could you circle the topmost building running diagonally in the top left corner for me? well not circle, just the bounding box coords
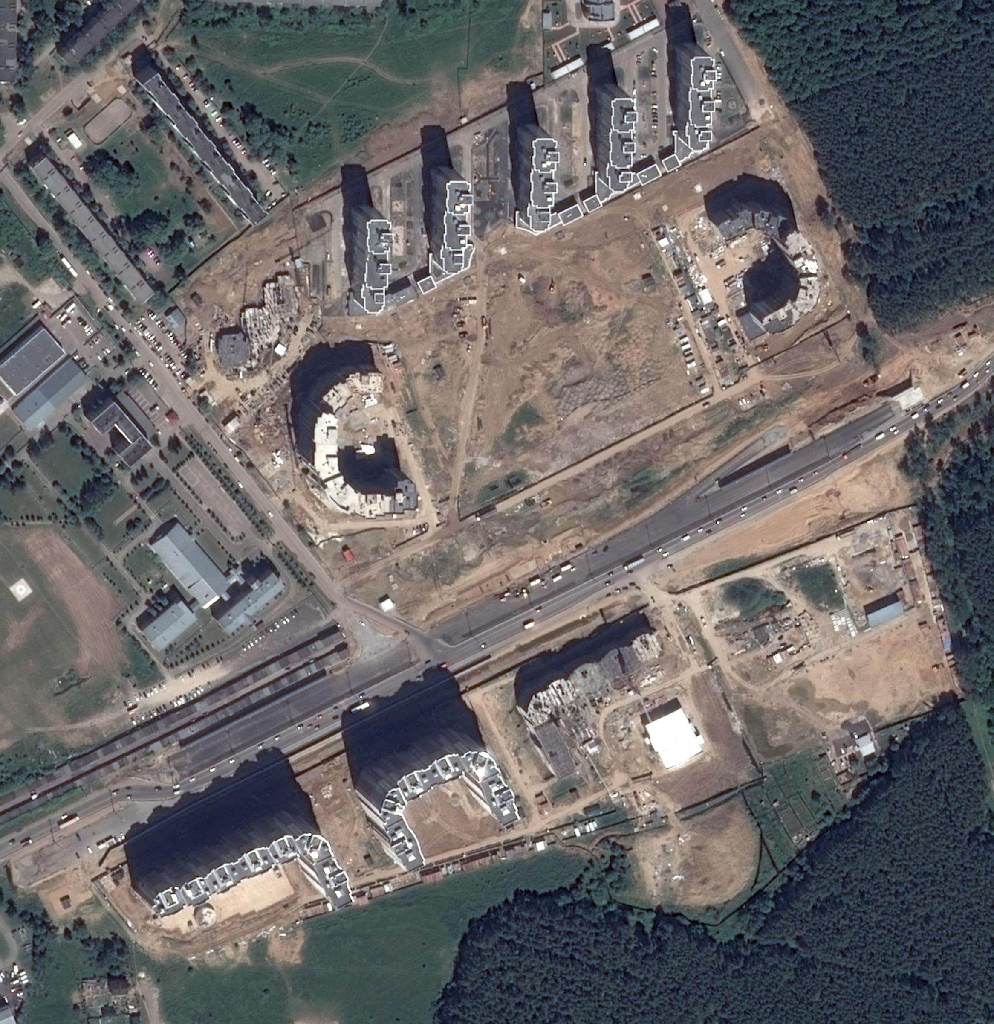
[57,0,140,67]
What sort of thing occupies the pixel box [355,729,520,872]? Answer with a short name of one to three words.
building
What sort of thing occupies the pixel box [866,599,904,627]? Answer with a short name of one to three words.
shed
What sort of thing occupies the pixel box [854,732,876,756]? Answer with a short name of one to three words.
house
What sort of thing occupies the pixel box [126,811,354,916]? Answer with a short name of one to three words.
building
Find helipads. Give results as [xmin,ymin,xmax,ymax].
[9,578,32,602]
